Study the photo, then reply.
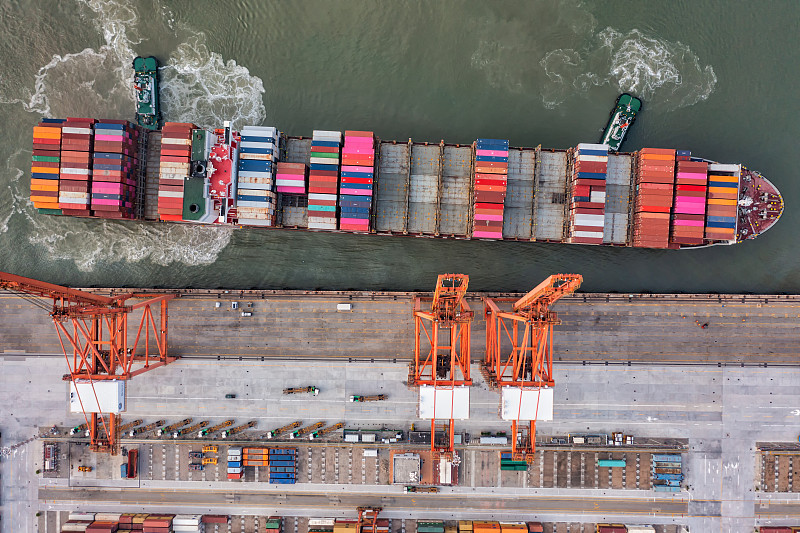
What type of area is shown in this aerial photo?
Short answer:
port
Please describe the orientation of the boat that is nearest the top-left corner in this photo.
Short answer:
from top to bottom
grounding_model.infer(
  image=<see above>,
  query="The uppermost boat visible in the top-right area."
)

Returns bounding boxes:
[594,90,643,152]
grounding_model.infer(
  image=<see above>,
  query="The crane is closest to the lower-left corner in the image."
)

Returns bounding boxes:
[0,269,192,460]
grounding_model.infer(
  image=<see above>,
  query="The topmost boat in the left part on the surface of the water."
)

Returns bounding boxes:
[131,53,164,130]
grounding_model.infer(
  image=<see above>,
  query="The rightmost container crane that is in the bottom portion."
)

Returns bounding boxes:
[473,270,584,467]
